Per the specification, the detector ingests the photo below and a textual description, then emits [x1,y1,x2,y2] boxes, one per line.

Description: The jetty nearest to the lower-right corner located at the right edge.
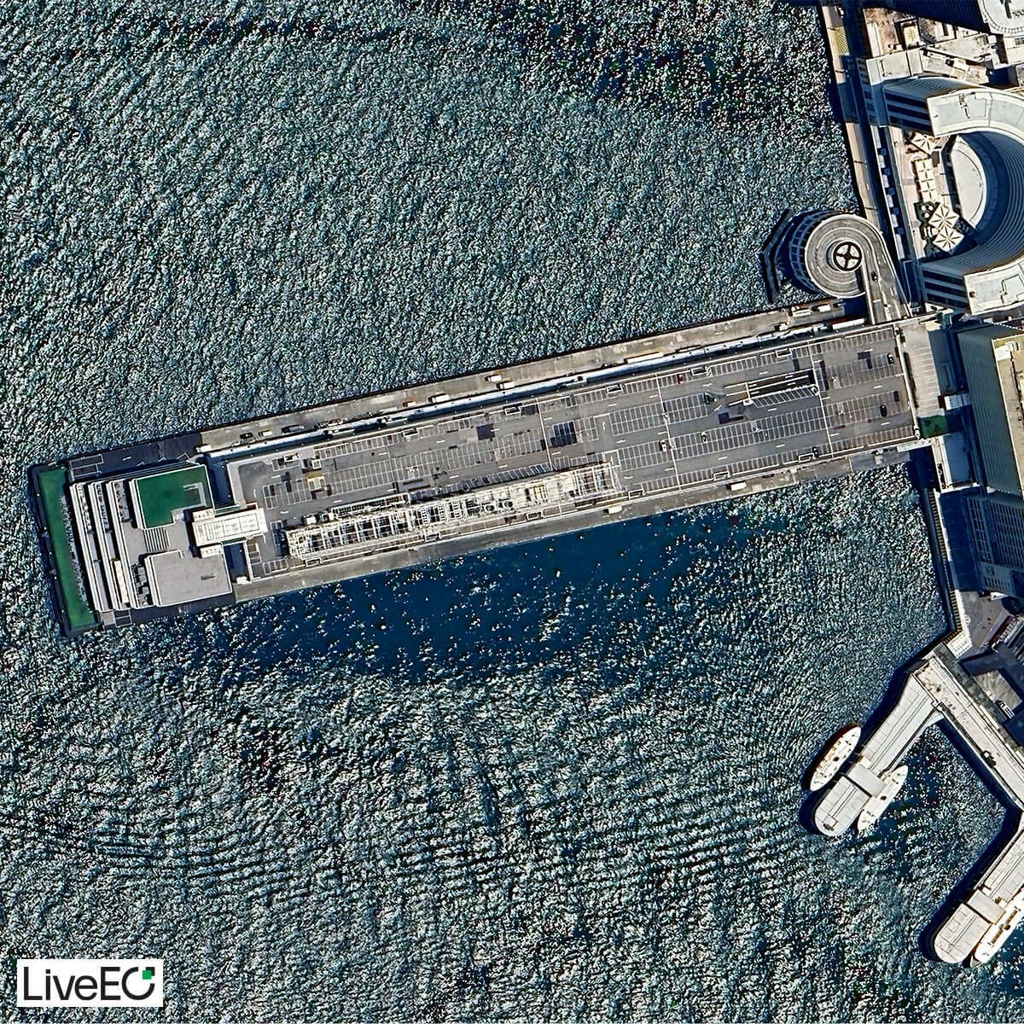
[924,807,1024,963]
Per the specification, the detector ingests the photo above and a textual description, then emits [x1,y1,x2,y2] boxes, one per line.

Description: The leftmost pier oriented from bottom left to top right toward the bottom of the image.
[806,673,945,837]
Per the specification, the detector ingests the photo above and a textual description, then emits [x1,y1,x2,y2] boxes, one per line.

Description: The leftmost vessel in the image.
[809,726,860,791]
